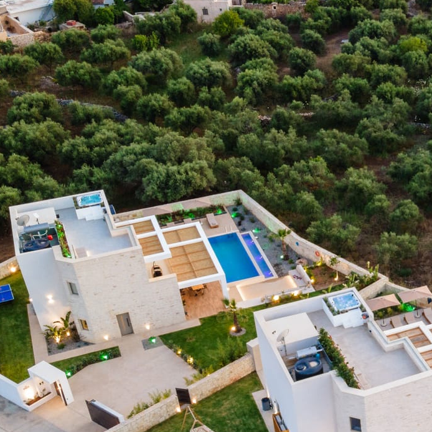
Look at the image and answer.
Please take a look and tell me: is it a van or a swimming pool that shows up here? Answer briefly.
swimming pool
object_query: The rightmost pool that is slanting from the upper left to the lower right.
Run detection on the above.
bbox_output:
[238,229,276,272]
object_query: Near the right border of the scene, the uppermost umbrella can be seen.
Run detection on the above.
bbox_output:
[398,284,432,302]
